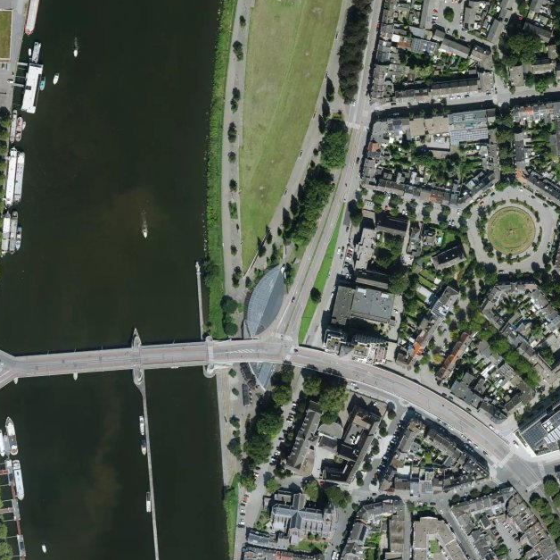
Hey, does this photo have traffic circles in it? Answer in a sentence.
Yes, the image includes a traffic circle.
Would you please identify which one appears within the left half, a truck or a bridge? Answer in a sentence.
There is a bridge within the left half.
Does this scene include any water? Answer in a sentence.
Yes, some water is visible.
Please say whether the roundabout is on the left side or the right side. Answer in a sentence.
It is on the right.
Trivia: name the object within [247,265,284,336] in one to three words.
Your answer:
building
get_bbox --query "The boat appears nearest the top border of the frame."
[26,0,38,35]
